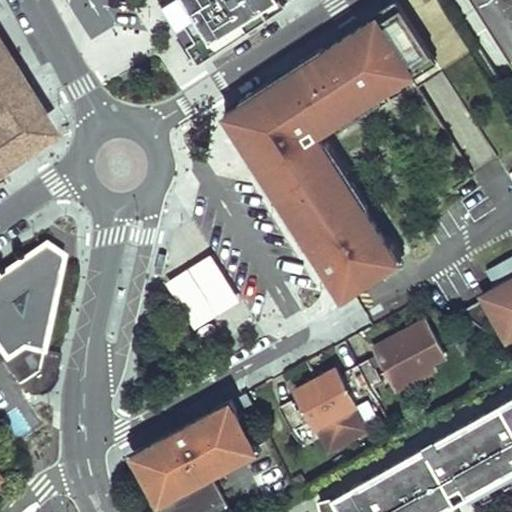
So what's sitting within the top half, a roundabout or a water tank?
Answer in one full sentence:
There is a roundabout within the top half.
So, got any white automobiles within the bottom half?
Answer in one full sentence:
Yes, looking within the bottom half, one can make out a white automobile.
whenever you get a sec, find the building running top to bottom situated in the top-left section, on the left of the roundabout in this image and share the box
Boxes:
[0,40,60,179]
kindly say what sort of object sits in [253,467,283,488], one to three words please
truck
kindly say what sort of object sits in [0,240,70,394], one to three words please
building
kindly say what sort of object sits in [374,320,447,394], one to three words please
house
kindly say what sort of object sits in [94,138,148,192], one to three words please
roundabout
